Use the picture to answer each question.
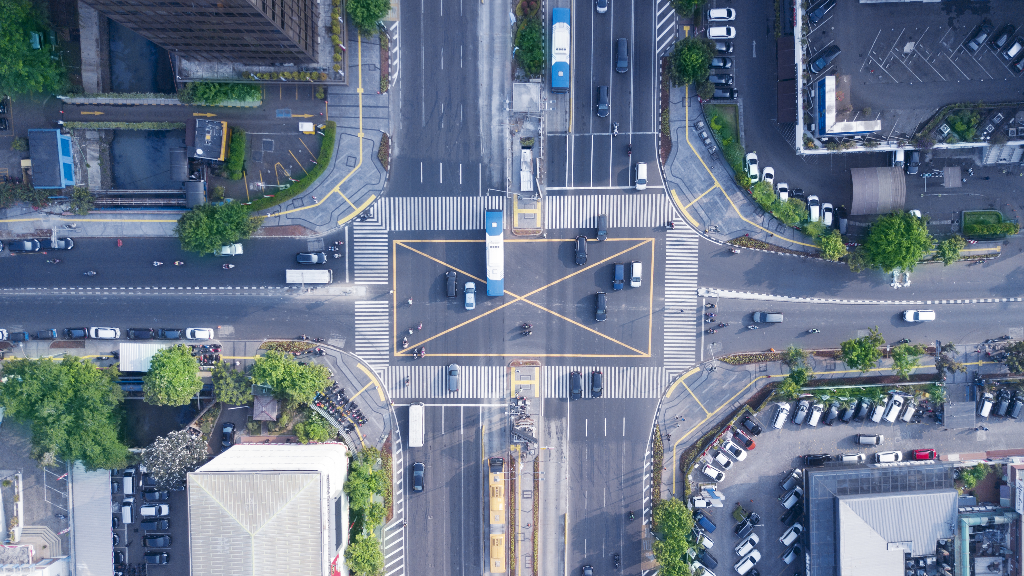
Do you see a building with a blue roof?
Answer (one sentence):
Yes, there's a building with a blue roof here.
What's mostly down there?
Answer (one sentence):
For the most part, this view shows paved ground.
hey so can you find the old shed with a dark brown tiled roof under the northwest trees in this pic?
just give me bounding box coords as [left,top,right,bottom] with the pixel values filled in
[50,0,82,31]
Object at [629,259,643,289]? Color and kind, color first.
white car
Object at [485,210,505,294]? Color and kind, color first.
white bus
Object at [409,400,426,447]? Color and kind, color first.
white vehicle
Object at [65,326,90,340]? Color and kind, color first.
blue car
